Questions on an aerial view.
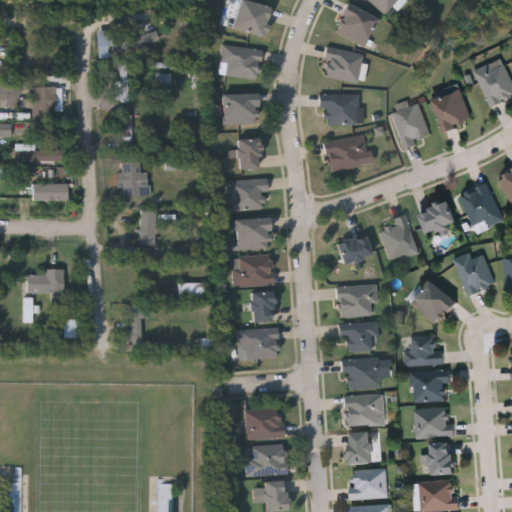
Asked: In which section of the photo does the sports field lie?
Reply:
bottom left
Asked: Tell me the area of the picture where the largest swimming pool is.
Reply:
right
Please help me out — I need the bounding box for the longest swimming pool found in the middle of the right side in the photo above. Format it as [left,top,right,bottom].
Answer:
[436,232,460,253]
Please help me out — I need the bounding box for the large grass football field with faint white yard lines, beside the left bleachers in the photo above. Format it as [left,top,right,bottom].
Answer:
[36,400,142,512]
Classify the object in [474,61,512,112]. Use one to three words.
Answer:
house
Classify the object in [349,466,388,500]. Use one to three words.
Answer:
house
